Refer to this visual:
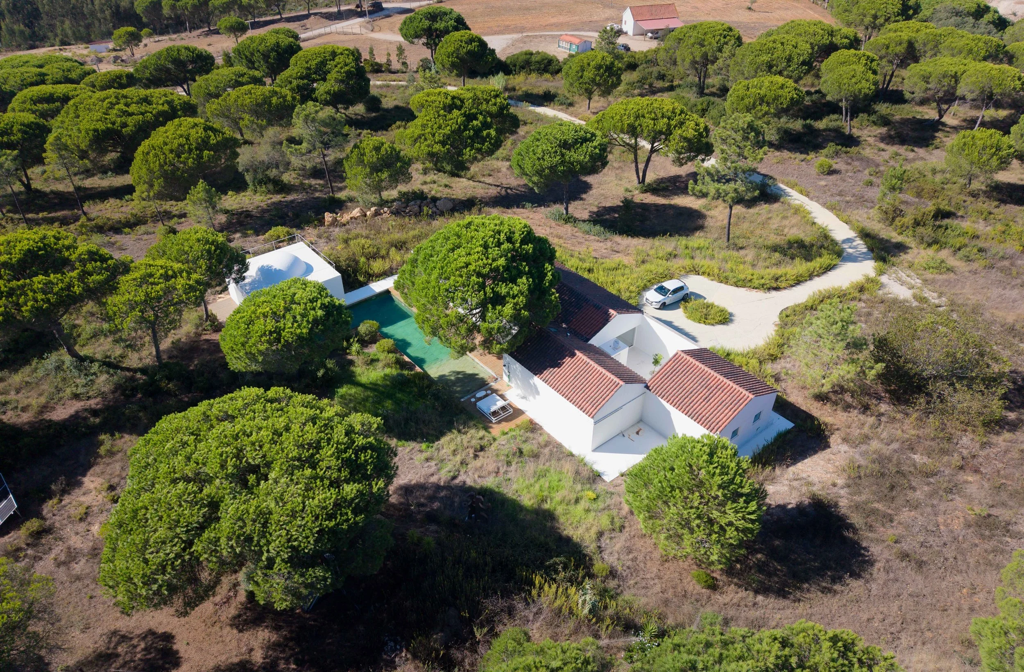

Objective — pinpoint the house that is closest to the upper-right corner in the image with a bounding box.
[616,1,679,36]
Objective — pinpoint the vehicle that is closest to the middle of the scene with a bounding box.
[644,278,692,308]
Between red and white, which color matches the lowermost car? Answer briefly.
white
